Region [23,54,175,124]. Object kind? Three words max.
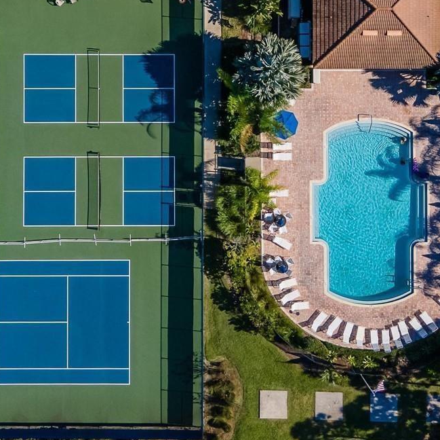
sports court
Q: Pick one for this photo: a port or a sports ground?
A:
sports ground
